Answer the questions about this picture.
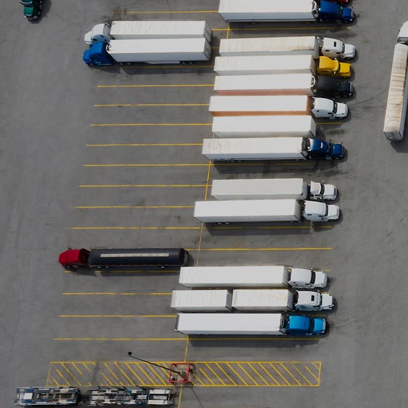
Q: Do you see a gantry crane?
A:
No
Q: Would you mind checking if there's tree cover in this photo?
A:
No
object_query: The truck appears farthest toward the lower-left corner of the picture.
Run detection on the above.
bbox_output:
[9,383,183,407]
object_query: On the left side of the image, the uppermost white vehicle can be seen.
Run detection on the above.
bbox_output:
[83,21,214,45]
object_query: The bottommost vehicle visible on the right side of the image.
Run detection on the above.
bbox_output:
[173,313,327,336]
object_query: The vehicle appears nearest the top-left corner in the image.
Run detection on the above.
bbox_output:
[18,0,40,21]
